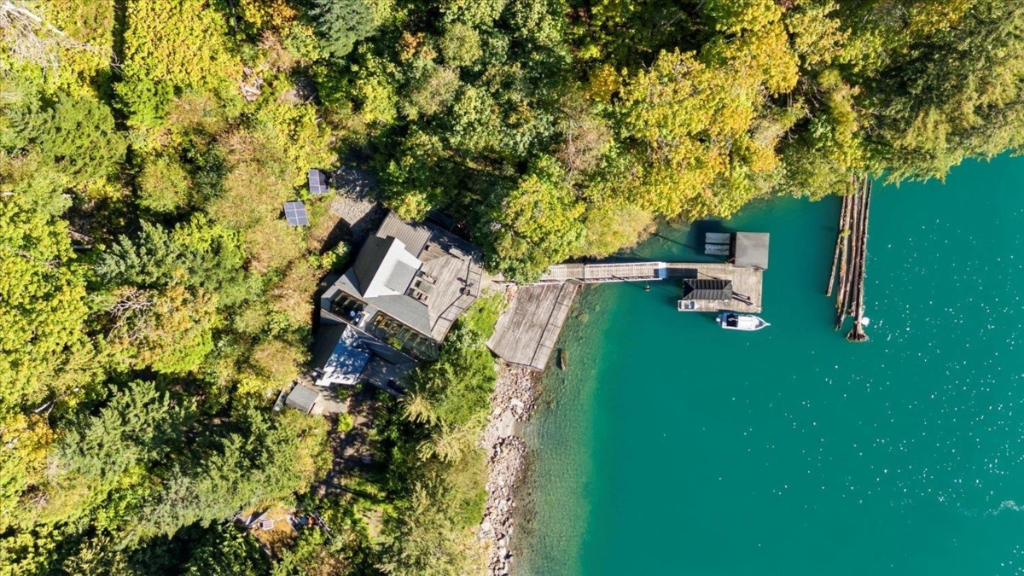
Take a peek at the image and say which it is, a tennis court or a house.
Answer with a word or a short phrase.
house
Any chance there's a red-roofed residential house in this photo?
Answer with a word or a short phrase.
No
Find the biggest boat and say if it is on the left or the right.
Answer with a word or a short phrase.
right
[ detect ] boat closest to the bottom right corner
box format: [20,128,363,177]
[718,311,770,331]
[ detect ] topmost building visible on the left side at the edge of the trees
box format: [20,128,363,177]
[311,211,439,396]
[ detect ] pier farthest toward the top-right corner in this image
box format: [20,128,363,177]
[667,262,762,313]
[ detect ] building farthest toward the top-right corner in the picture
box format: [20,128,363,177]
[727,232,769,269]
